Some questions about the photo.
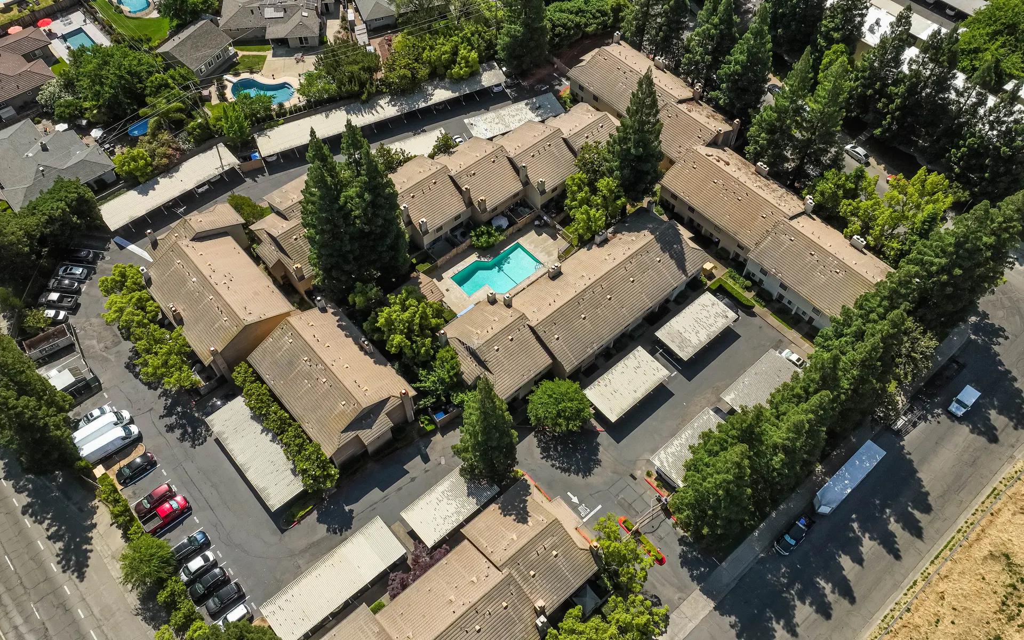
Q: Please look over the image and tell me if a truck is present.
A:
Yes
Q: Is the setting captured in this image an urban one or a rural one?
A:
urban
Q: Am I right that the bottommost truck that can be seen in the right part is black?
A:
Yes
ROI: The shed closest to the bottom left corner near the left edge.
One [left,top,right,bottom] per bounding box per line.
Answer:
[39,362,96,402]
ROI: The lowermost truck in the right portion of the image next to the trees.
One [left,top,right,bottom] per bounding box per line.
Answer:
[771,511,817,558]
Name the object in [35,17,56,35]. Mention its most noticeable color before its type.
red umbrella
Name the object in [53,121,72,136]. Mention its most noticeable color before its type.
white umbrella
